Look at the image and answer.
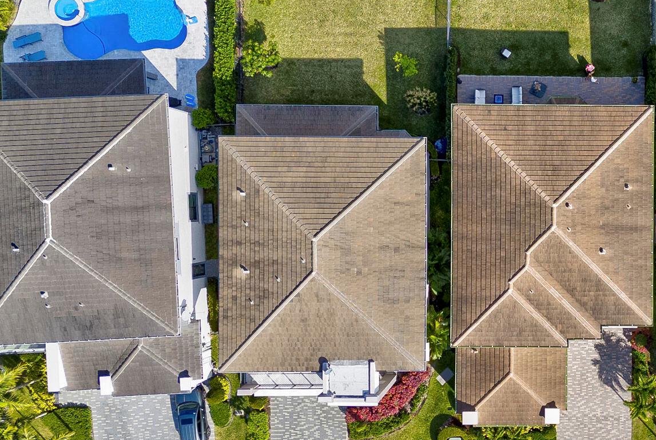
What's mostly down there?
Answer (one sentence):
The scene is dominated by buildings.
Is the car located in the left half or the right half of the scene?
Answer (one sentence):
You can find the car on the left side of the picture.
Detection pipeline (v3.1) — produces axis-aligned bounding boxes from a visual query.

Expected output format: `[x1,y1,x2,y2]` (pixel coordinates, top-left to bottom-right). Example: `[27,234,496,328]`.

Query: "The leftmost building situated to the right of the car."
[216,103,431,407]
